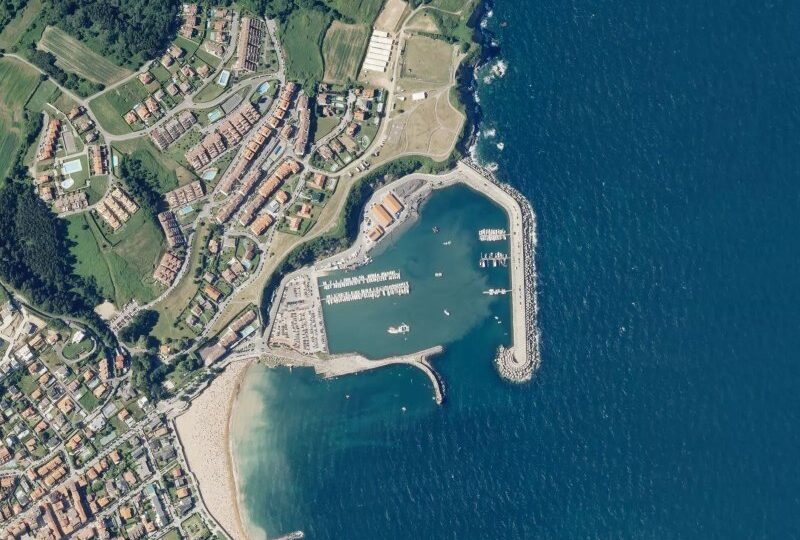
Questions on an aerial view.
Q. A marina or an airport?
marina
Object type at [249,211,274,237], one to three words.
building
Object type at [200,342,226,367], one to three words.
building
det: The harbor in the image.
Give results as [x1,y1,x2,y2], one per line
[255,161,460,367]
